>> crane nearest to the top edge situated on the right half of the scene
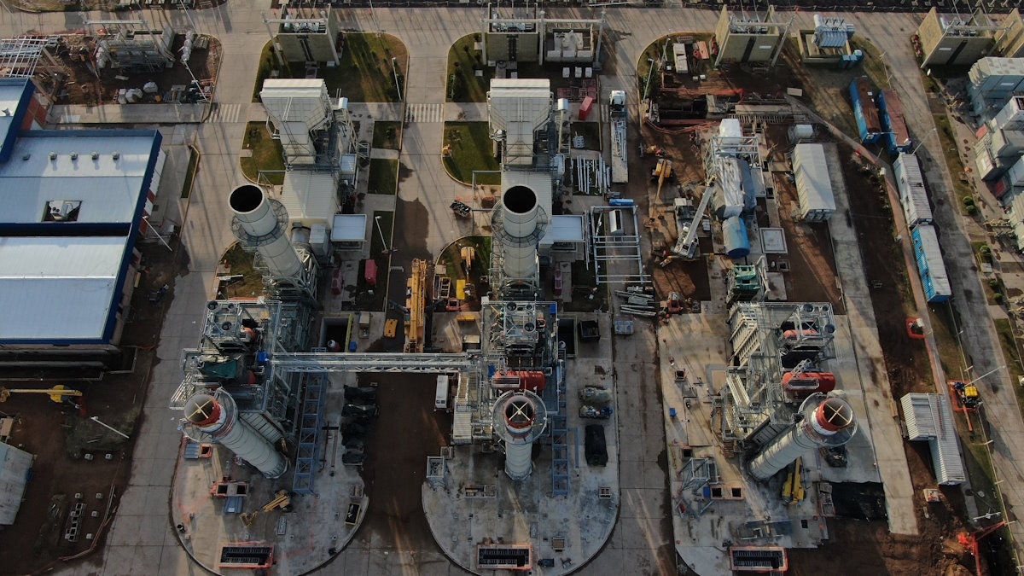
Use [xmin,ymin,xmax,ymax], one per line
[659,164,722,263]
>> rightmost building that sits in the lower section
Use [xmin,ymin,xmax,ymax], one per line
[703,292,858,450]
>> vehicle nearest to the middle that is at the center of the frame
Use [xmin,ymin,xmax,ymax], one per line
[458,236,477,289]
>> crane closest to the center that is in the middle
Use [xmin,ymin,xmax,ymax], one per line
[391,251,447,353]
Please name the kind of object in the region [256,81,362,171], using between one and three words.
house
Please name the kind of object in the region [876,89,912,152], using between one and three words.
shipping container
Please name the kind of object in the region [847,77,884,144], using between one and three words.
shipping container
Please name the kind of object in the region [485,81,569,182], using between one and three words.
house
